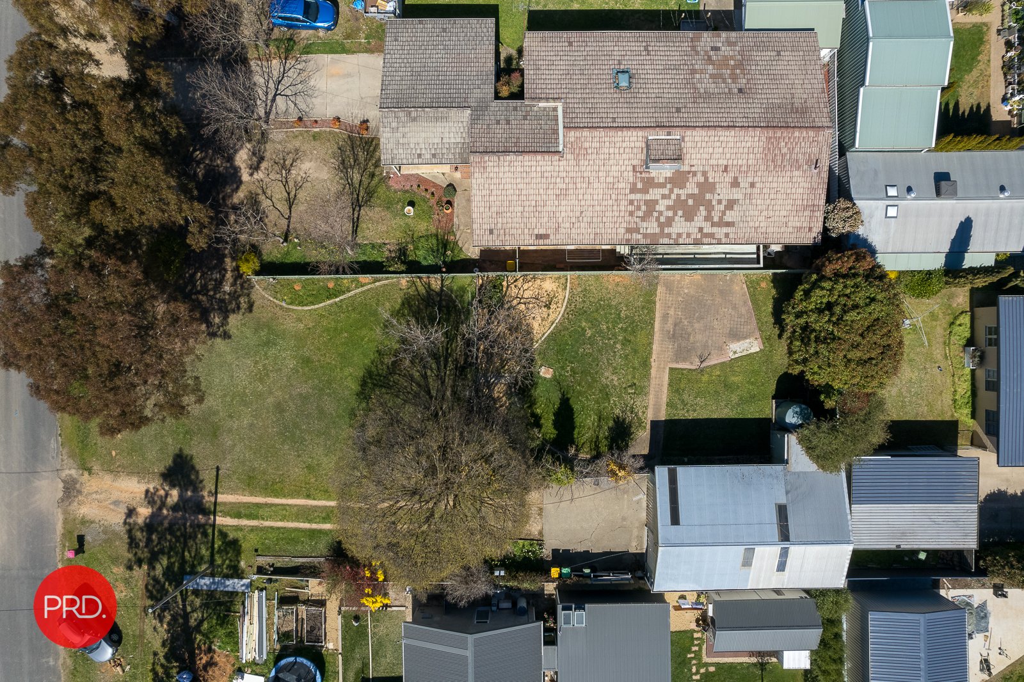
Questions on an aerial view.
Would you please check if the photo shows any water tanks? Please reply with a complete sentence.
Yes, the image includes a water tank.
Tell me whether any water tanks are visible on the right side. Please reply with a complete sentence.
Yes, a water tank is visible on the right side.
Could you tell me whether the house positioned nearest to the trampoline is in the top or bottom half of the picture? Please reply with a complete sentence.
It is in the bottom half that the house positioned nearest to the trampoline appears.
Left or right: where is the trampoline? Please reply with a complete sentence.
The trampoline is on the left side of the image.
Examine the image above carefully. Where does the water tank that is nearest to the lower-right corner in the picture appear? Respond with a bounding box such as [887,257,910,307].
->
[776,399,813,431]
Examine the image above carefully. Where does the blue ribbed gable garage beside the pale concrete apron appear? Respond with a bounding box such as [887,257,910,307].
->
[846,595,969,682]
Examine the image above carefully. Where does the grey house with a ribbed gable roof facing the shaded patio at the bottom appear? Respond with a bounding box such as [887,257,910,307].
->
[401,610,544,682]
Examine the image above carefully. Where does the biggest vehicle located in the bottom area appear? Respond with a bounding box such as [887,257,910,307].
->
[53,599,115,657]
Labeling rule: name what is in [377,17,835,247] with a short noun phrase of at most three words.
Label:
house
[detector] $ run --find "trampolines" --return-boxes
[265,651,323,682]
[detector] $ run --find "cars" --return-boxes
[270,0,339,33]
[53,599,115,657]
